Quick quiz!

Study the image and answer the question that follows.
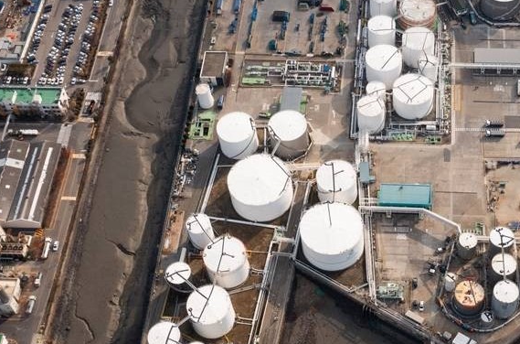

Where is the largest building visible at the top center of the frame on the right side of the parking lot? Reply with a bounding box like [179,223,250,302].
[200,51,229,86]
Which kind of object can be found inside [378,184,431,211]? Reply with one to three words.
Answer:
house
